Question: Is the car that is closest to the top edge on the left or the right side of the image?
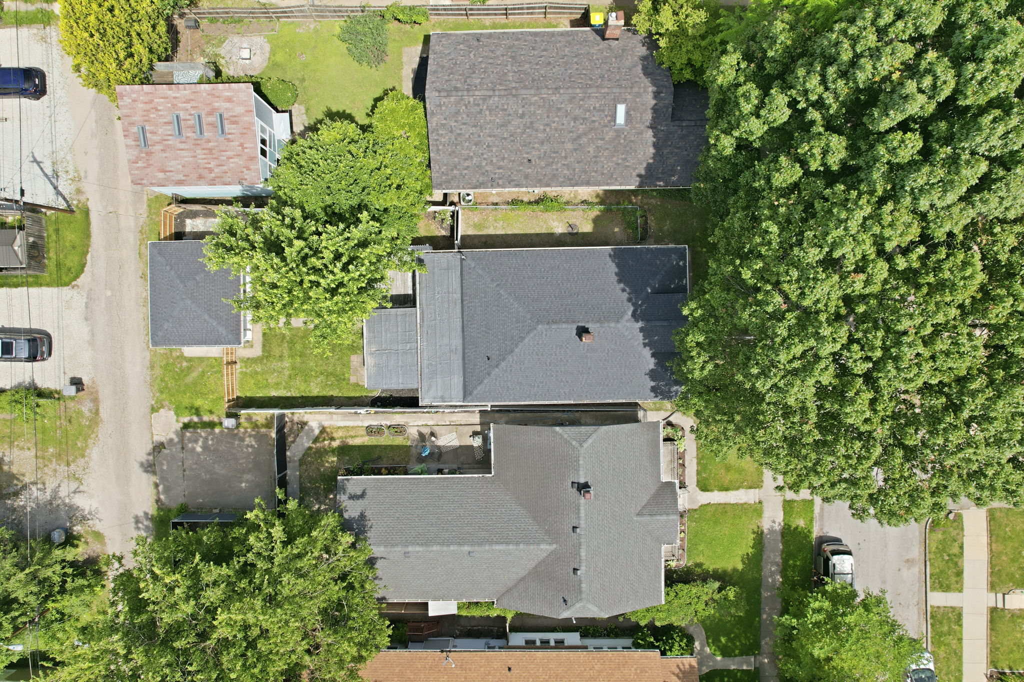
left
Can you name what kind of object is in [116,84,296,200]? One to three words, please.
building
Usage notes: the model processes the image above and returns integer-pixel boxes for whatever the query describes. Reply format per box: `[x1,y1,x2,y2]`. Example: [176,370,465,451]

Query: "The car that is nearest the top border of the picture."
[0,66,49,102]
